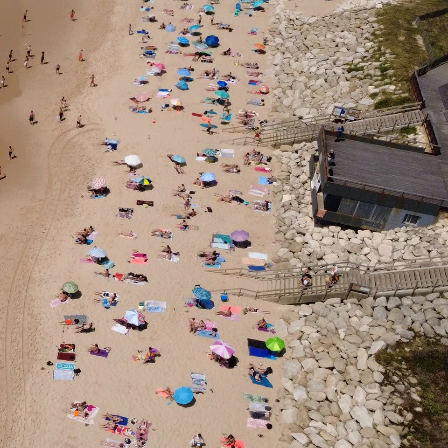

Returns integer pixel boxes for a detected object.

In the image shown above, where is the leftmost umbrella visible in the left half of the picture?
[62,283,79,295]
